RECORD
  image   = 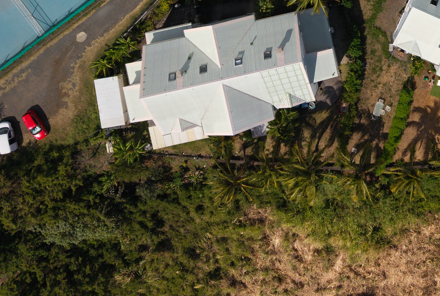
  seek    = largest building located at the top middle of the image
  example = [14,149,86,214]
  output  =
[123,7,339,136]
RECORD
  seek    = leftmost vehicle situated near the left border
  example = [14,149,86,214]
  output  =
[0,119,19,155]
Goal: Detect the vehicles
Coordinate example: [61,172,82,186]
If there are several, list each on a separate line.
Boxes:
[24,108,49,140]
[0,119,19,155]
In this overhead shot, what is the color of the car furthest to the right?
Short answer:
red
